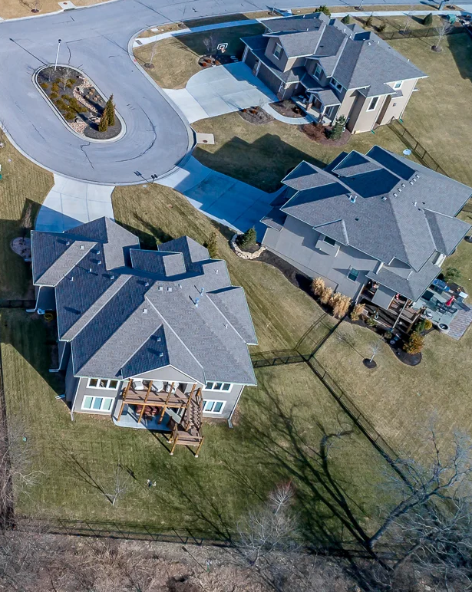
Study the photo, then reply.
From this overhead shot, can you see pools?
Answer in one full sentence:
No, I can't see a single pool in this photo.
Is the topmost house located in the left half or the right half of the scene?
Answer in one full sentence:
The topmost house sits on the right side.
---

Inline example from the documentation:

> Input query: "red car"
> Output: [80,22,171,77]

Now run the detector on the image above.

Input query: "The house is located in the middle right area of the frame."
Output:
[256,139,472,360]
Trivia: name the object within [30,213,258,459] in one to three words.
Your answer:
house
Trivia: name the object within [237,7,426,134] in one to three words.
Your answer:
house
